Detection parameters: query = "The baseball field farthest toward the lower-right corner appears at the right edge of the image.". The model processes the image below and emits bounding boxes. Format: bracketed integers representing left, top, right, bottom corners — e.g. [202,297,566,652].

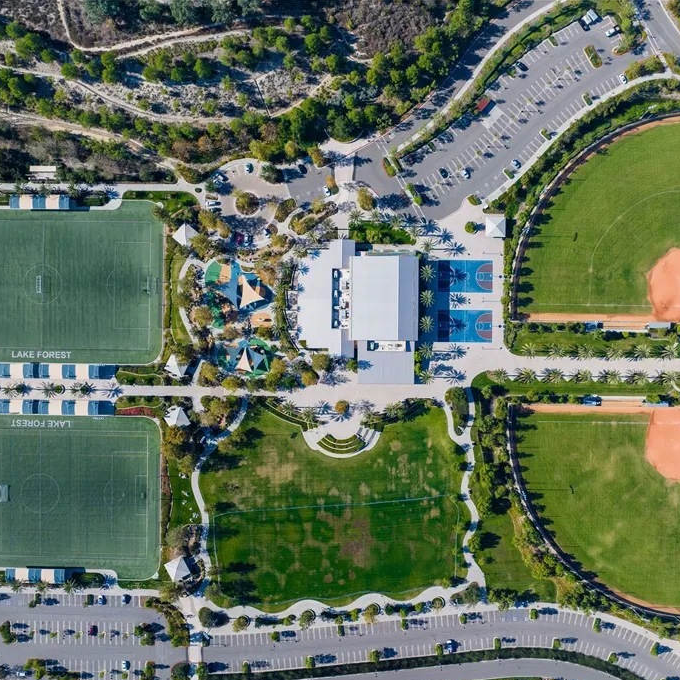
[508,404,680,617]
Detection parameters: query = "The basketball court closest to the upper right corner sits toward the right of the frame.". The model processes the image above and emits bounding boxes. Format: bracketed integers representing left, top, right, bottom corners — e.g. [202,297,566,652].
[439,260,493,292]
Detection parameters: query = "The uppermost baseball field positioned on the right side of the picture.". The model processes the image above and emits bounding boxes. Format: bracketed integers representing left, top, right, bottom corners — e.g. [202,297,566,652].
[509,115,680,323]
